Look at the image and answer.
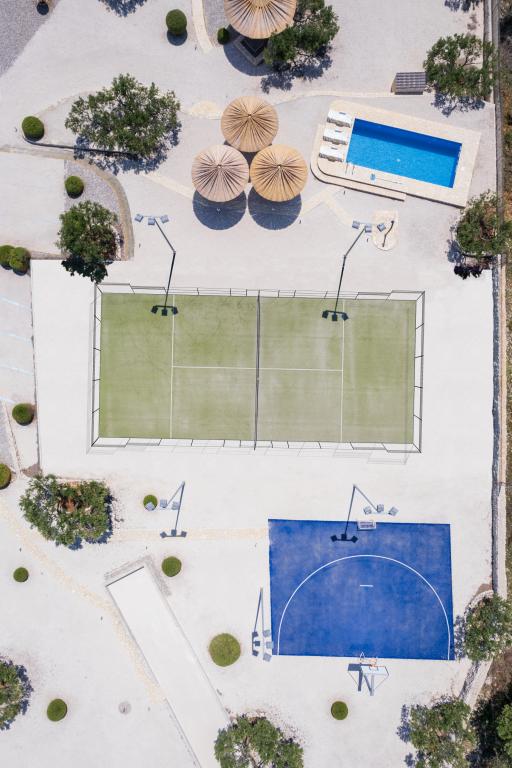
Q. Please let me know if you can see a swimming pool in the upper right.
Yes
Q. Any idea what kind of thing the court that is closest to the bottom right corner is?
basketball court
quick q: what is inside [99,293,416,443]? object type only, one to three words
tennis court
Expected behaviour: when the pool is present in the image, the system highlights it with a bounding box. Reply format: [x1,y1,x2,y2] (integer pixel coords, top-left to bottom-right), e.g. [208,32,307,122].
[310,101,480,208]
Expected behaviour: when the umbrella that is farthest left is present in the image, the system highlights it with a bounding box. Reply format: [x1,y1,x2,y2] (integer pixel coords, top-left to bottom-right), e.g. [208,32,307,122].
[192,144,249,203]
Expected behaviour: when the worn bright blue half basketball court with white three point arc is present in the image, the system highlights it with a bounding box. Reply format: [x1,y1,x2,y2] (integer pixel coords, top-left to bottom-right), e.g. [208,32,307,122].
[269,519,453,660]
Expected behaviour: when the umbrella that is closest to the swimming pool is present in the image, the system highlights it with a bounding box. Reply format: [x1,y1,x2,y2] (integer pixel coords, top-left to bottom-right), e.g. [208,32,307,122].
[250,146,308,205]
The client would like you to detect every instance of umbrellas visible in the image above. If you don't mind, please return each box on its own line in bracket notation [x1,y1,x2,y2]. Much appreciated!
[192,144,249,203]
[223,0,298,43]
[221,96,278,154]
[250,146,308,205]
